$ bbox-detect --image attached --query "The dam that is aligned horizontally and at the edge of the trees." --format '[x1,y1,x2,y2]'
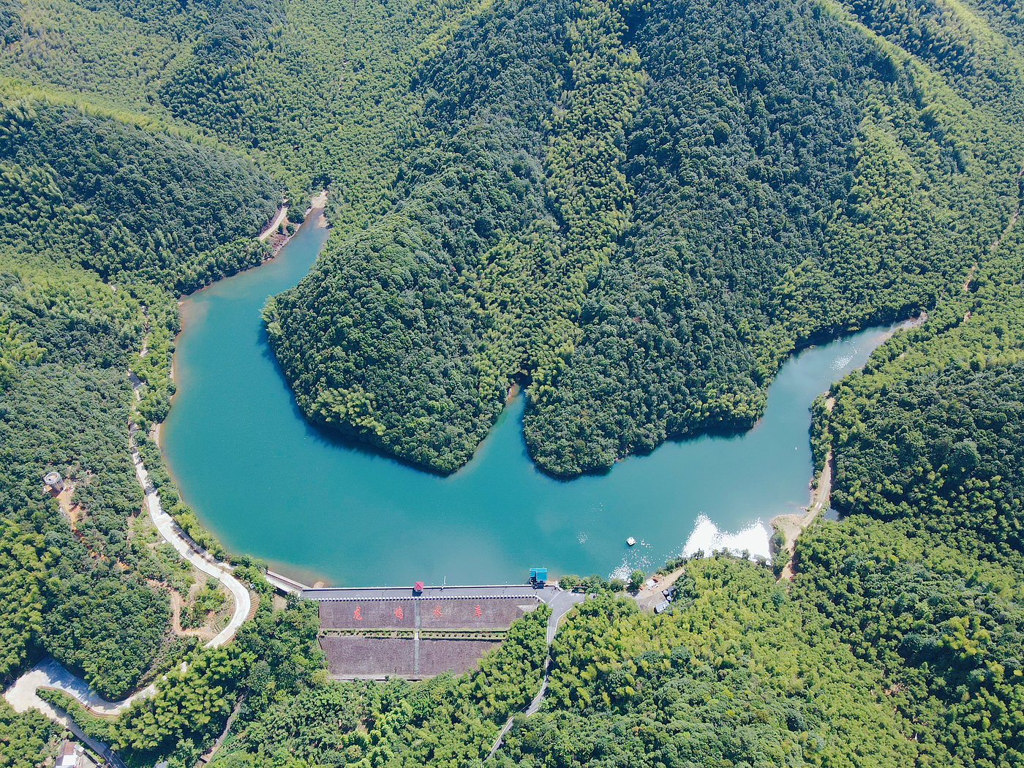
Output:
[297,579,562,683]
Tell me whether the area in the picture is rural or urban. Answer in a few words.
rural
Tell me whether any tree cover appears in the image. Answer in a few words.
Yes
